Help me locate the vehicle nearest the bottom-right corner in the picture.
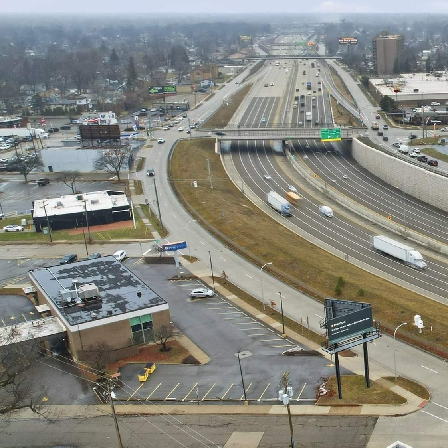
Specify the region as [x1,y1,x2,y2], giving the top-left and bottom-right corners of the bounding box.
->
[369,236,429,272]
